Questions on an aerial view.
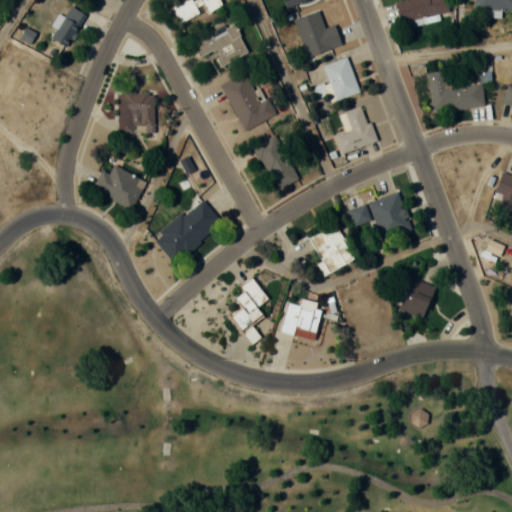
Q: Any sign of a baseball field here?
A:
No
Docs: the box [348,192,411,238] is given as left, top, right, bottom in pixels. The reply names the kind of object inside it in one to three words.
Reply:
house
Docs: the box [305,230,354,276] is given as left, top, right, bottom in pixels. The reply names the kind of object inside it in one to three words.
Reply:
house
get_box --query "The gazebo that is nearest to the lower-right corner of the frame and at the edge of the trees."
[410,408,430,430]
